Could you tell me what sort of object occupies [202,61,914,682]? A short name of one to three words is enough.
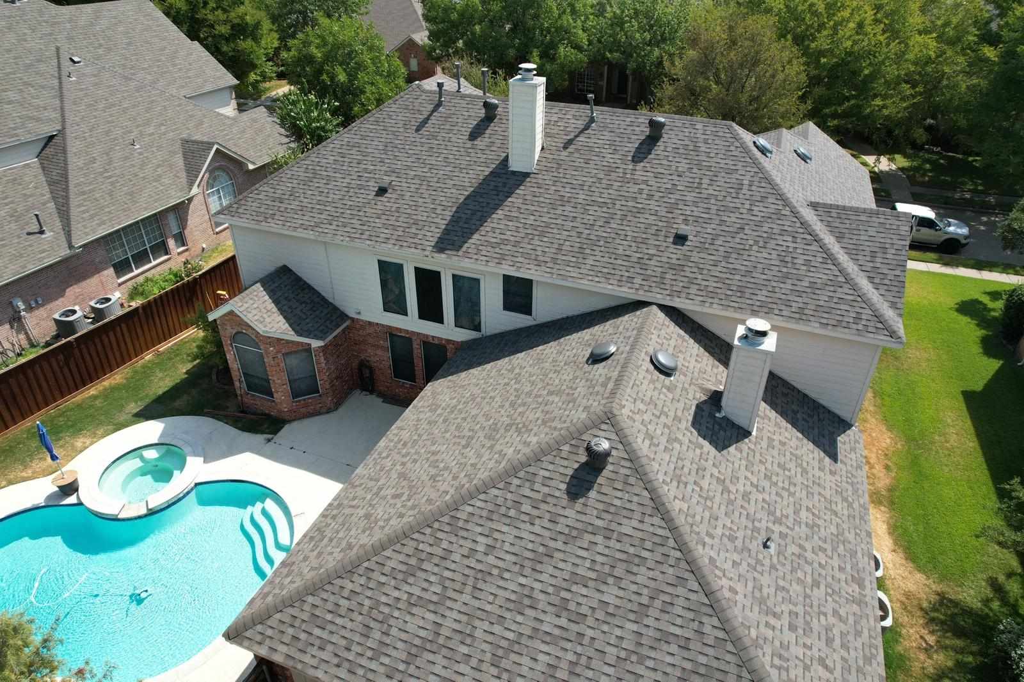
house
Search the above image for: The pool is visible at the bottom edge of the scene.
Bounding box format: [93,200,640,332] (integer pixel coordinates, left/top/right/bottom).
[0,439,306,682]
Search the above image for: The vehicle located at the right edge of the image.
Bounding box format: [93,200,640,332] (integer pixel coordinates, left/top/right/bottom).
[876,194,975,252]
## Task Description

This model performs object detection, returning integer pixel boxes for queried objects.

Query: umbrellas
[35,419,61,478]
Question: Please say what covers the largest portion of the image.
buildings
